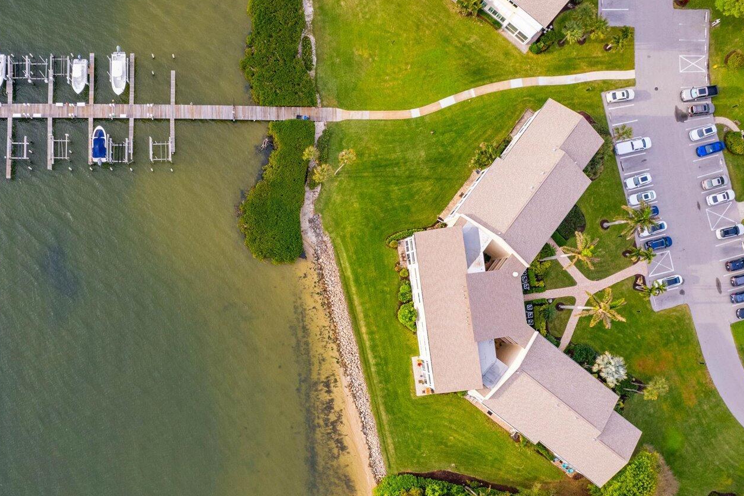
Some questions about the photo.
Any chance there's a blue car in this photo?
Yes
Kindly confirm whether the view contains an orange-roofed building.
No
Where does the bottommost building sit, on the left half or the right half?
right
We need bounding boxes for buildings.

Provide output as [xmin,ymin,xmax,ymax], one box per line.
[404,99,641,488]
[477,0,567,55]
